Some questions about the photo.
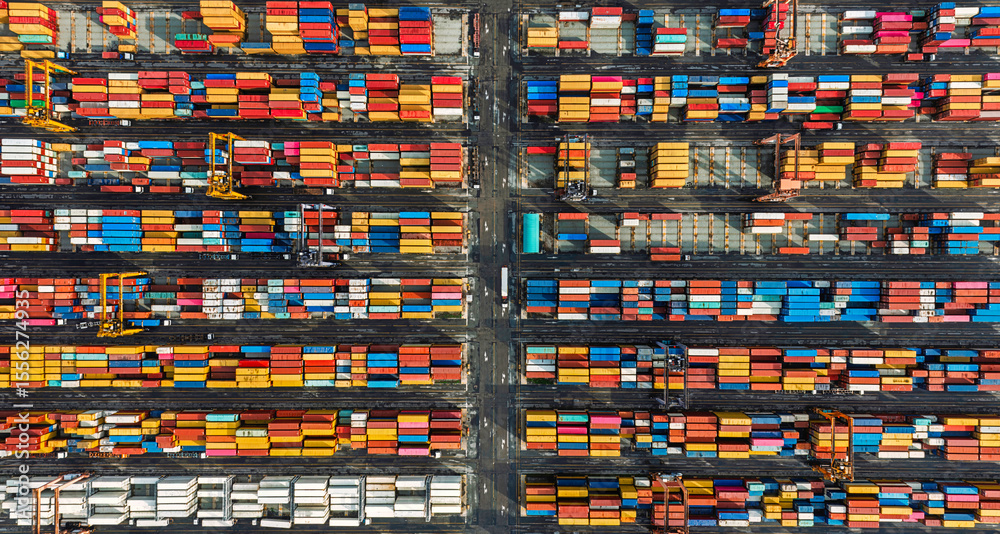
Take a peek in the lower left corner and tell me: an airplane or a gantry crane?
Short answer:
gantry crane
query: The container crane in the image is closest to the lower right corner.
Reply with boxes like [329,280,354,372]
[806,407,854,485]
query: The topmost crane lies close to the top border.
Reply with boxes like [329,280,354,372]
[753,0,797,66]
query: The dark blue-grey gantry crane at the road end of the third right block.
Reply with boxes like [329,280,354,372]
[558,132,591,203]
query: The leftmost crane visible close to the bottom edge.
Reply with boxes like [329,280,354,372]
[33,474,92,534]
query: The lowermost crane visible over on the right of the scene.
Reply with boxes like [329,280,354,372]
[649,473,688,534]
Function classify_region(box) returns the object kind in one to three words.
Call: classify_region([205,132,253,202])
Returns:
container crane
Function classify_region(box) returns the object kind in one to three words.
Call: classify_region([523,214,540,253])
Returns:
shed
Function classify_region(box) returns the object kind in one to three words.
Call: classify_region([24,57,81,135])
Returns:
container crane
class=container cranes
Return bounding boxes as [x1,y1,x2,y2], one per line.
[205,132,253,202]
[297,203,338,269]
[33,474,92,534]
[806,407,854,485]
[24,57,81,135]
[99,271,151,339]
[558,132,591,203]
[649,340,688,415]
[753,0,797,66]
[649,473,688,534]
[754,133,801,205]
